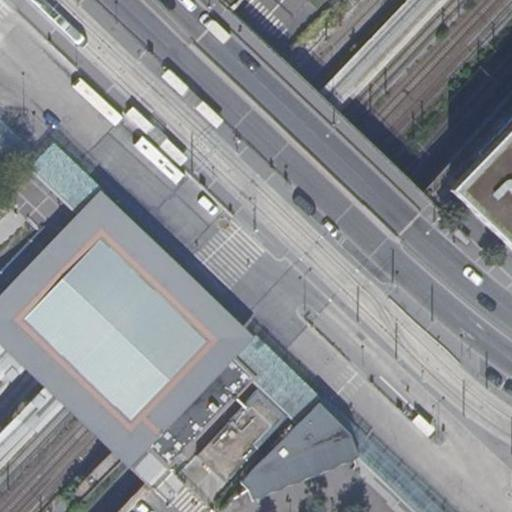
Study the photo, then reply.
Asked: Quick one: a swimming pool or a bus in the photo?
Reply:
bus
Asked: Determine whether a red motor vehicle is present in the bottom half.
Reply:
No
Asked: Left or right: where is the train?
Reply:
left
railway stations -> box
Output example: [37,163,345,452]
[0,191,250,468]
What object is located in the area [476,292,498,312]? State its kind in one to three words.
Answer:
car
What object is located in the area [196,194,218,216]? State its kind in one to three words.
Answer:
vehicle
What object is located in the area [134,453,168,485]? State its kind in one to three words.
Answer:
building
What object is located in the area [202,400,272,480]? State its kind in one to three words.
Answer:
building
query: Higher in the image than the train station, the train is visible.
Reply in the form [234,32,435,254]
[28,0,84,44]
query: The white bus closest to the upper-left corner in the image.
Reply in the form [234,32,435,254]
[72,76,126,128]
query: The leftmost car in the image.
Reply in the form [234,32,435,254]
[42,109,62,129]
